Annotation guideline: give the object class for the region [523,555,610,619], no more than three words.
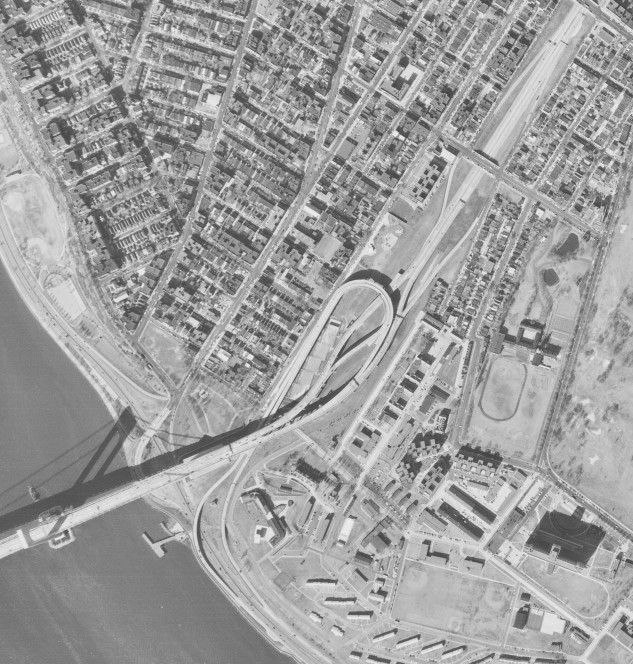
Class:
sports field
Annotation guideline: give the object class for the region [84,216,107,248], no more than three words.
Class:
building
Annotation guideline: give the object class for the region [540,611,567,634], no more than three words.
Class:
house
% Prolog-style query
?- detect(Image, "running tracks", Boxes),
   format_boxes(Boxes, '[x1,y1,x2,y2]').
[479,355,527,421]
